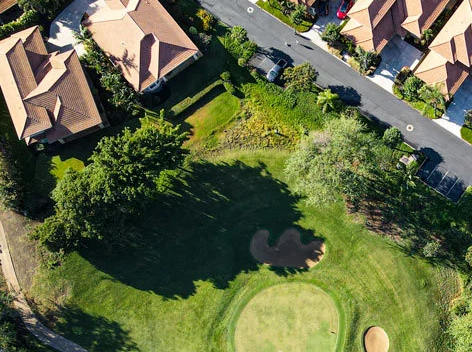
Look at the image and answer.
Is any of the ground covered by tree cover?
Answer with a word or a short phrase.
Yes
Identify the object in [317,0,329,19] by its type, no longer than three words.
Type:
vehicle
